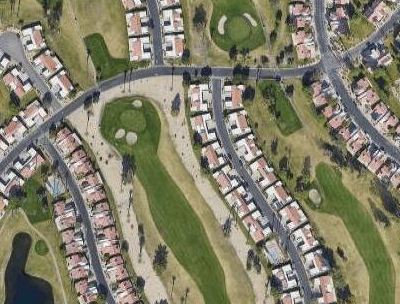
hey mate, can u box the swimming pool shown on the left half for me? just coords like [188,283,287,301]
[45,174,67,197]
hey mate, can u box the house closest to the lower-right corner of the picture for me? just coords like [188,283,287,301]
[312,277,340,304]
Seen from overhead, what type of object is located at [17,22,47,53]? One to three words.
house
